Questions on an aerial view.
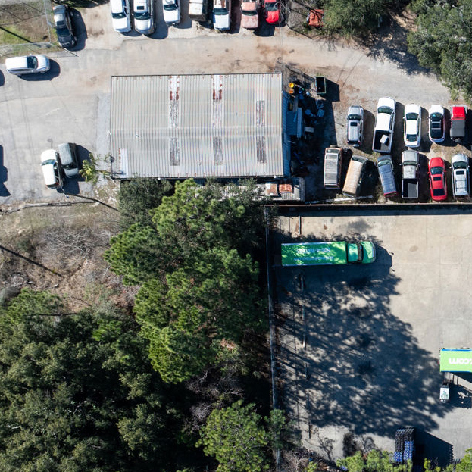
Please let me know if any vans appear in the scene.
Yes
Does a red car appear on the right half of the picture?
Yes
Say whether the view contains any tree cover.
Yes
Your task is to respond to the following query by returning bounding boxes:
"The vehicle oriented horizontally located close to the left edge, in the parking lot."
[7,54,52,75]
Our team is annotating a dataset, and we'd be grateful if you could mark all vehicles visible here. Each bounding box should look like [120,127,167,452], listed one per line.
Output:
[370,97,395,155]
[309,11,337,28]
[7,54,52,75]
[238,0,261,31]
[427,157,447,202]
[427,105,446,144]
[448,154,470,199]
[448,106,467,144]
[439,373,451,406]
[159,0,183,27]
[321,146,343,192]
[53,5,78,50]
[399,150,420,200]
[261,0,282,26]
[344,106,364,148]
[109,0,132,34]
[56,142,84,180]
[131,0,155,37]
[341,155,369,198]
[402,104,422,149]
[435,347,472,374]
[374,155,399,199]
[209,0,232,32]
[37,149,66,192]
[186,0,209,25]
